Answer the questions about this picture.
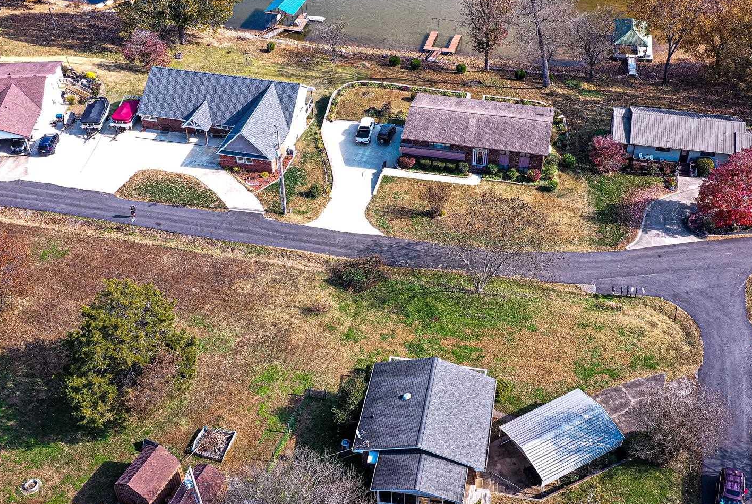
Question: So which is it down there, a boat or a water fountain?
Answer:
boat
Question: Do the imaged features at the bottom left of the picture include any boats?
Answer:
No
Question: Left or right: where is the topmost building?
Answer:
right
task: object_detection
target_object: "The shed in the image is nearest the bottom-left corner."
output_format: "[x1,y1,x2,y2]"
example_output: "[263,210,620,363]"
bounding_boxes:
[114,444,181,504]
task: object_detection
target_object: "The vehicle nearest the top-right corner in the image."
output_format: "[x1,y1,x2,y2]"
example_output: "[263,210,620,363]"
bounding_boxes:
[376,120,397,140]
